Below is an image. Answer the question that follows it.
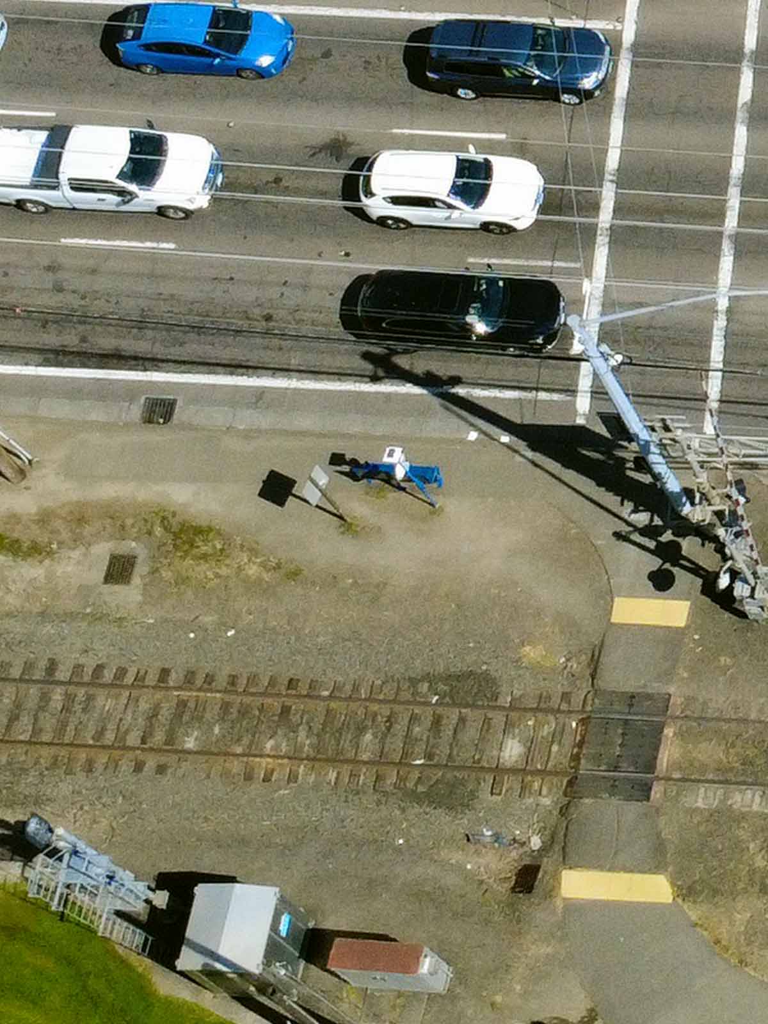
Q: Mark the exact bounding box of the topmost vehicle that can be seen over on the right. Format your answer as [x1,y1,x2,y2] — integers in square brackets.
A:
[420,6,614,104]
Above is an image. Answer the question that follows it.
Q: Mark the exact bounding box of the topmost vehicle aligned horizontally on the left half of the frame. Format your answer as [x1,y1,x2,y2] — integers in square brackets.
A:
[118,0,298,79]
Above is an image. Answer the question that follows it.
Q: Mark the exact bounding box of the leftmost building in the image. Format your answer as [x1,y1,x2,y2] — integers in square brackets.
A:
[175,883,323,993]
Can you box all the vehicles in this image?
[420,6,614,104]
[356,139,547,232]
[349,258,567,357]
[0,120,222,218]
[118,0,298,79]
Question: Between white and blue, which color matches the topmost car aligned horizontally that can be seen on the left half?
blue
